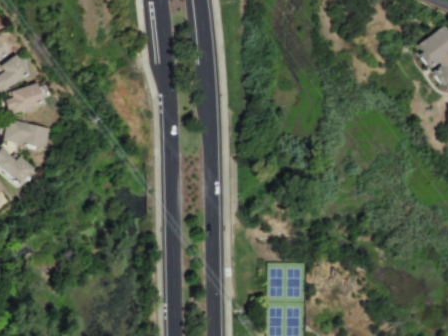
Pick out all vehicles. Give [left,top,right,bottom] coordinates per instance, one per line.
[172,124,177,136]
[215,180,220,194]
[206,224,212,234]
